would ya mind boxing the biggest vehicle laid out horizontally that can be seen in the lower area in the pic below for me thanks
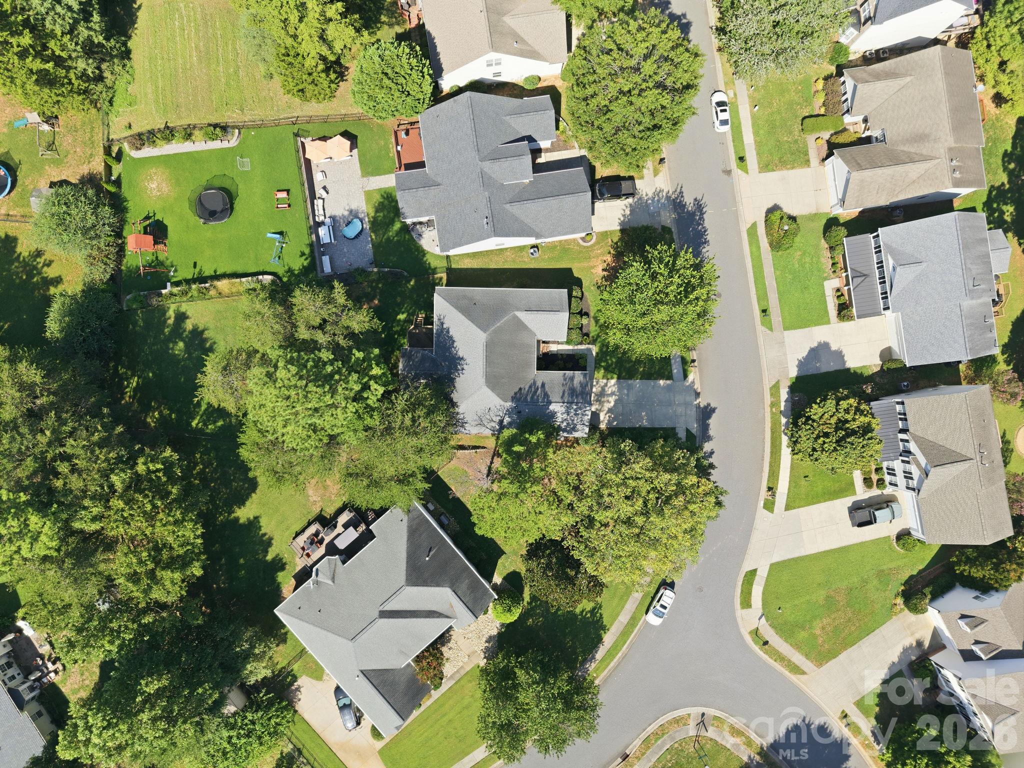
[748,491,910,569]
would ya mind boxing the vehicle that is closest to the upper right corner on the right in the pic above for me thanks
[709,91,730,133]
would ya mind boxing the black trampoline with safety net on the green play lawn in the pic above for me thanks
[188,183,233,225]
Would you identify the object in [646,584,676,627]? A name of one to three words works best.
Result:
car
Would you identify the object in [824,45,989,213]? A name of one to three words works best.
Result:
house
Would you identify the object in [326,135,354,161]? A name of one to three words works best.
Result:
umbrella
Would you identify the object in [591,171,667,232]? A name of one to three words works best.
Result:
truck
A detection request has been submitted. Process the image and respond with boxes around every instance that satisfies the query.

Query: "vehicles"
[331,686,359,733]
[286,676,384,768]
[847,500,902,526]
[709,91,730,133]
[589,176,641,199]
[748,491,910,569]
[591,171,667,232]
[646,584,676,627]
